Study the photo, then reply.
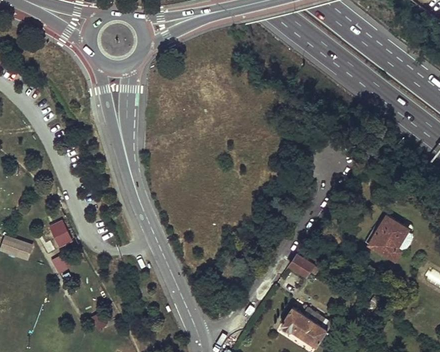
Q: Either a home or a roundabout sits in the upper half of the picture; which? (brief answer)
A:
roundabout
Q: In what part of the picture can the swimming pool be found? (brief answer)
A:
bottom right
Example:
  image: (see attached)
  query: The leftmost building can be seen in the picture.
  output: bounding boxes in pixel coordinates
[0,236,34,260]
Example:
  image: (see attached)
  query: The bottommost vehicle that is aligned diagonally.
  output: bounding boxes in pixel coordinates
[213,332,228,352]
